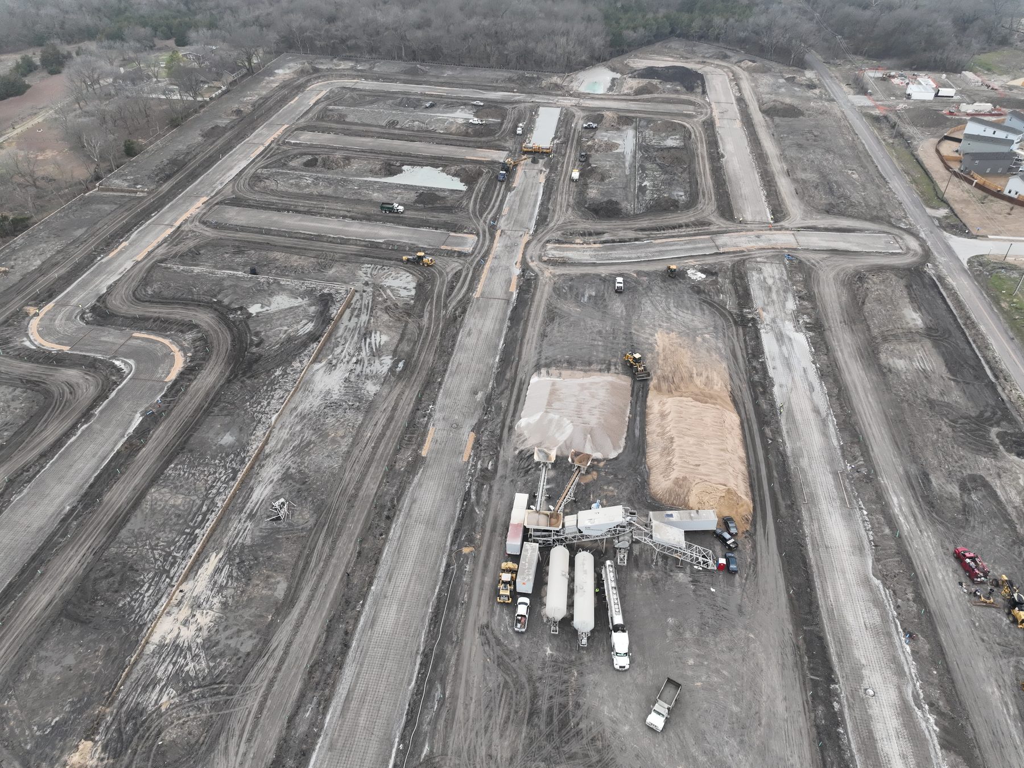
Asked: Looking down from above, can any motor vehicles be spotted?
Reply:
Yes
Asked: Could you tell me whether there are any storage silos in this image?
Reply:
Yes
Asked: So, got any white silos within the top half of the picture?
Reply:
No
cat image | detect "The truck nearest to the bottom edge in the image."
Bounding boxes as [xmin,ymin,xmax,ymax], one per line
[643,671,685,735]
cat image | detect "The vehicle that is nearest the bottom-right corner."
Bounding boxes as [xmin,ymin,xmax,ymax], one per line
[991,572,1024,628]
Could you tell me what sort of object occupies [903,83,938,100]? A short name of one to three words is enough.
shed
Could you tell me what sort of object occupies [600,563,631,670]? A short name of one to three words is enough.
truck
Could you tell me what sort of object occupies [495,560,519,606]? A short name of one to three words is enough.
work vehicle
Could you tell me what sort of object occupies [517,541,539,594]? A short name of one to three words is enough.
trailer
